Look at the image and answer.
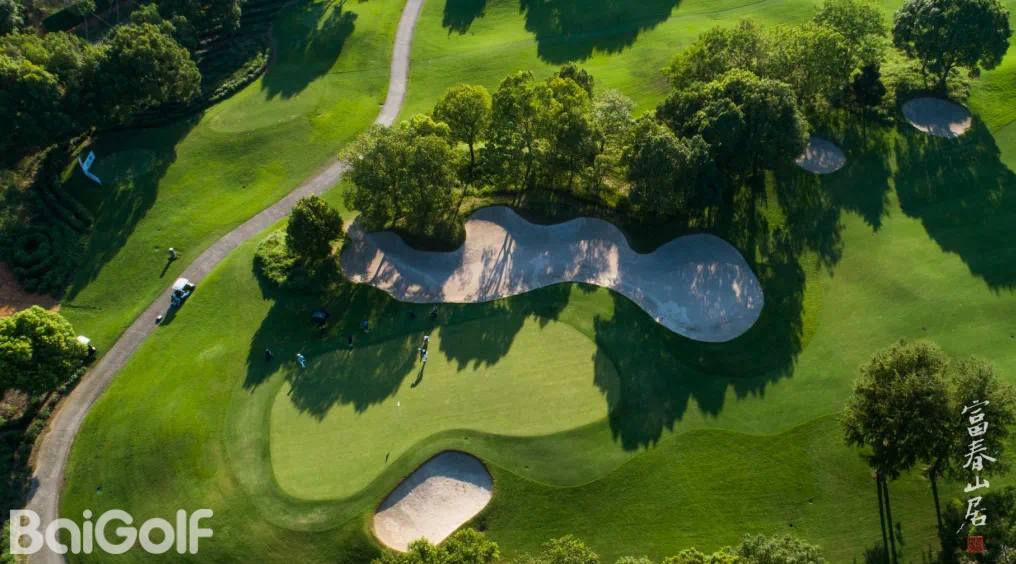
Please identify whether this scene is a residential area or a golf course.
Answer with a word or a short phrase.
golf course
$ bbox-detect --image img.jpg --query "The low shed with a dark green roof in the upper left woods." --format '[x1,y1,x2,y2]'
[30,7,82,40]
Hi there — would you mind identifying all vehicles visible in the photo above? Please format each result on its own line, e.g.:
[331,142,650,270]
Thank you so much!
[172,283,191,306]
[76,336,95,359]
